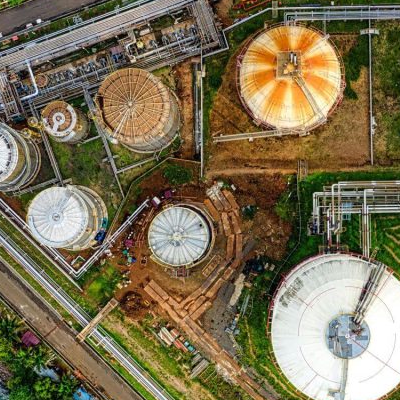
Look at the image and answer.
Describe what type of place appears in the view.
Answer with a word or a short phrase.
industrial area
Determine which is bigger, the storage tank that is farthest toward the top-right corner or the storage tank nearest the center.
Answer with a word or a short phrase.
the storage tank that is farthest toward the top-right corner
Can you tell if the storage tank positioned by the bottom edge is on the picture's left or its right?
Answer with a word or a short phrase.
right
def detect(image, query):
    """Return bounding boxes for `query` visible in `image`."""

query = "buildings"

[21,330,43,347]
[75,386,97,400]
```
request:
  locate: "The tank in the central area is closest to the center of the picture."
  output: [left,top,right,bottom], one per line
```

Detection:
[149,202,218,278]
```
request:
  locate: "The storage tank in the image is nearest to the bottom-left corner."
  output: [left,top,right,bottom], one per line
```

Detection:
[25,184,108,252]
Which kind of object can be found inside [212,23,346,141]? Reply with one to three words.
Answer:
storage tank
